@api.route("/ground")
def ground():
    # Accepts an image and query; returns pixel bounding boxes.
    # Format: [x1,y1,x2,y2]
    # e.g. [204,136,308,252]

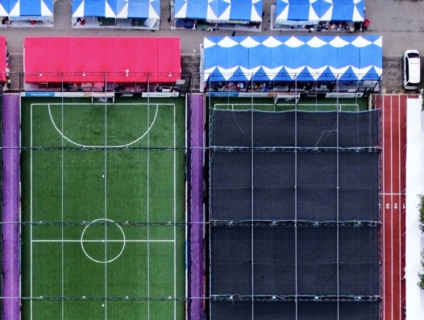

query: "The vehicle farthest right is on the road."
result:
[403,53,422,89]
